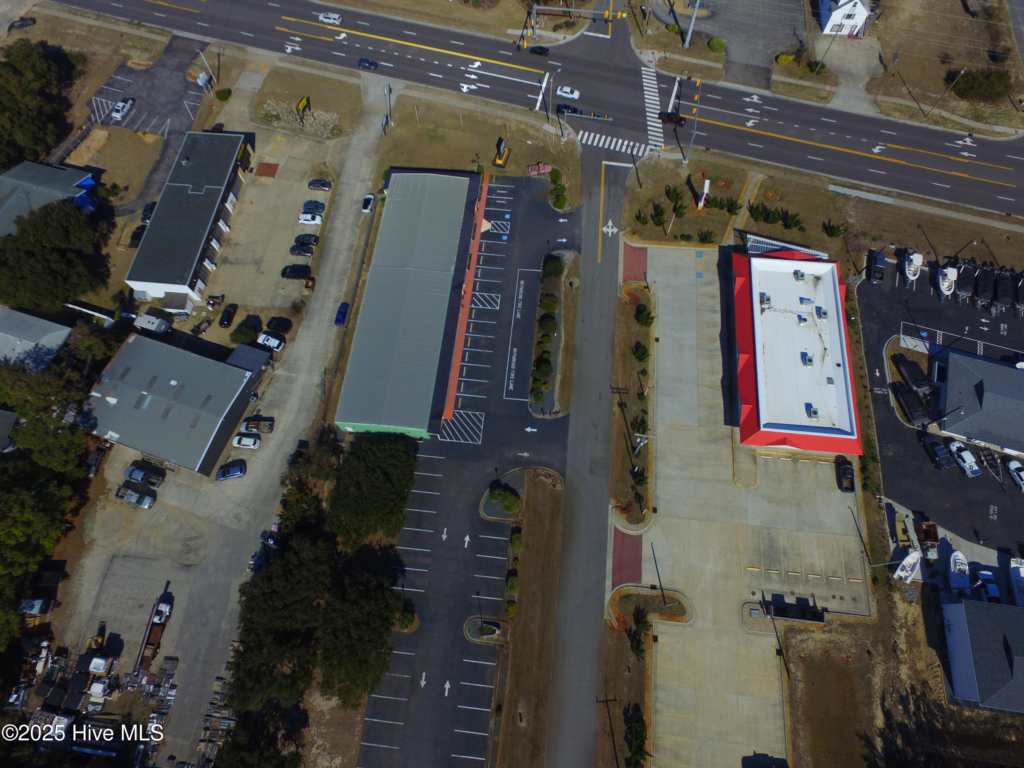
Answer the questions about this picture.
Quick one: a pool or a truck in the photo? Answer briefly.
truck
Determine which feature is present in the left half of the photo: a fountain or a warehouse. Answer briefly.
warehouse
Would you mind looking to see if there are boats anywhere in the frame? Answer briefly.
Yes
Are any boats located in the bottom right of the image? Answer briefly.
Yes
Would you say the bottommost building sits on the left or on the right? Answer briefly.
right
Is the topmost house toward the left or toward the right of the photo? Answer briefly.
right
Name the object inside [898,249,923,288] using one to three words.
boat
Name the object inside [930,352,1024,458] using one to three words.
building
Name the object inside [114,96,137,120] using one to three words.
truck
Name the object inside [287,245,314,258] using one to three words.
vehicle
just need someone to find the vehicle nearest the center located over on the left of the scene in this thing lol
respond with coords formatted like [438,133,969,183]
[334,301,352,326]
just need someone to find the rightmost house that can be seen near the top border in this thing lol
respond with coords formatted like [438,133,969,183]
[817,0,873,40]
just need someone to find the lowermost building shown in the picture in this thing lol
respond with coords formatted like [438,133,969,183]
[945,600,1024,712]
